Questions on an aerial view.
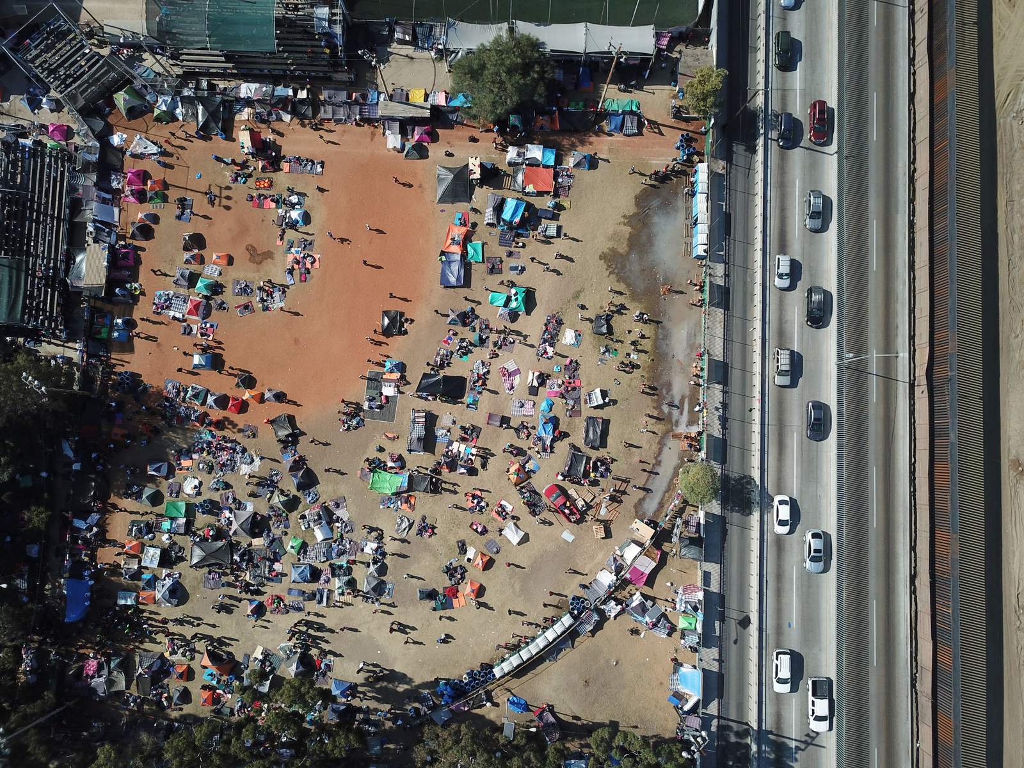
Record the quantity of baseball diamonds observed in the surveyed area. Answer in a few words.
1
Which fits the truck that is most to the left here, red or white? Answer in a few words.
red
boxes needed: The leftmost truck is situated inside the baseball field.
[544,483,584,526]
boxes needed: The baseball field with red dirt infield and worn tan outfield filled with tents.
[78,107,707,741]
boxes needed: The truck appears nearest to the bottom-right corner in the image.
[806,673,830,731]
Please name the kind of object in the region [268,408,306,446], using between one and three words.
tent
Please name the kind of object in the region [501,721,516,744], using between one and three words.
solar panel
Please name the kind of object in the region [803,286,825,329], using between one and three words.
car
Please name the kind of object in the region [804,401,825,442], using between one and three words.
car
